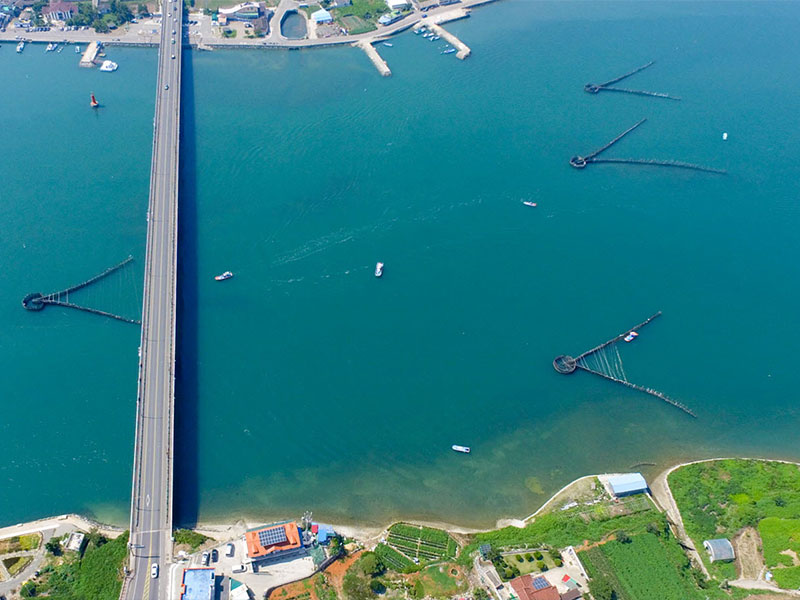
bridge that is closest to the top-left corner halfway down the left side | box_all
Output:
[129,0,184,541]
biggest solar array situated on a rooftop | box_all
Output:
[259,525,289,549]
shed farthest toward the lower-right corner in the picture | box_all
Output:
[700,539,738,563]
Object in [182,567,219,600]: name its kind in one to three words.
house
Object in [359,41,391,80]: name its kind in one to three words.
pier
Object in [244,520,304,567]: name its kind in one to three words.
house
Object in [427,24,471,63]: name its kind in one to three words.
pier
